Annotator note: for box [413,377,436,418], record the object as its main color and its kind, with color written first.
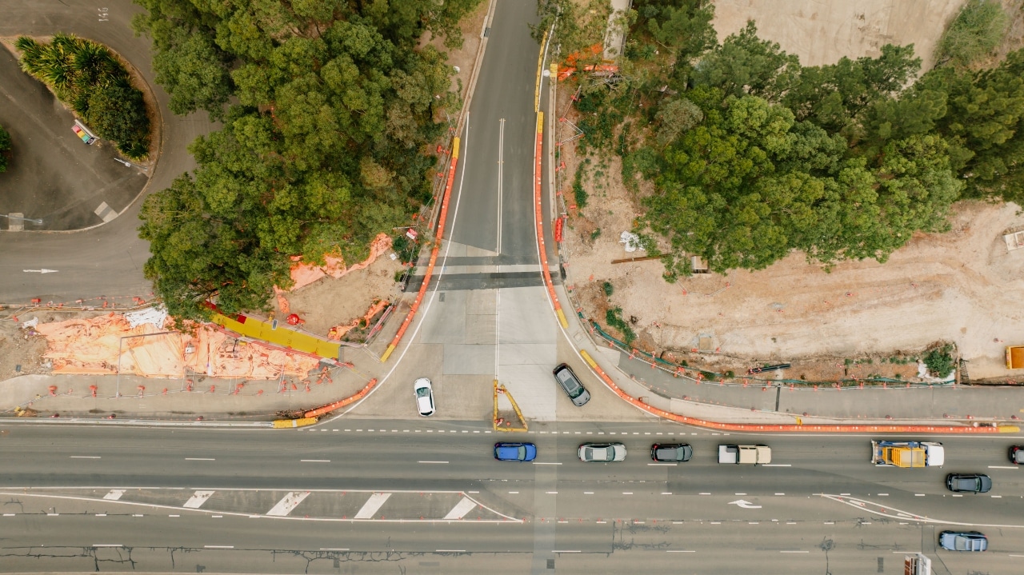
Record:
white car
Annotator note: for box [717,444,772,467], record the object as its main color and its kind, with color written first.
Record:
white truck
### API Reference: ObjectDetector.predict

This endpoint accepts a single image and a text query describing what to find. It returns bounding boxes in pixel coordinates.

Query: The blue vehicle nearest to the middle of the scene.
[494,441,537,464]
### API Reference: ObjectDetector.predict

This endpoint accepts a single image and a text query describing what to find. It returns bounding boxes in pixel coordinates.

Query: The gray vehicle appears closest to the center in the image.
[553,361,589,408]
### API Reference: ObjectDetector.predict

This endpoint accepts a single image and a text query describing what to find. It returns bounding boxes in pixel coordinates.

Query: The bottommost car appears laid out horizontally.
[937,529,990,553]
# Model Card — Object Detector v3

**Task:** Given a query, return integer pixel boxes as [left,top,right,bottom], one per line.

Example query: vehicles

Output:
[869,440,949,473]
[944,471,991,495]
[650,442,692,464]
[937,529,990,553]
[413,377,436,418]
[494,441,537,464]
[717,444,772,467]
[1004,444,1024,464]
[578,441,625,464]
[553,361,589,408]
